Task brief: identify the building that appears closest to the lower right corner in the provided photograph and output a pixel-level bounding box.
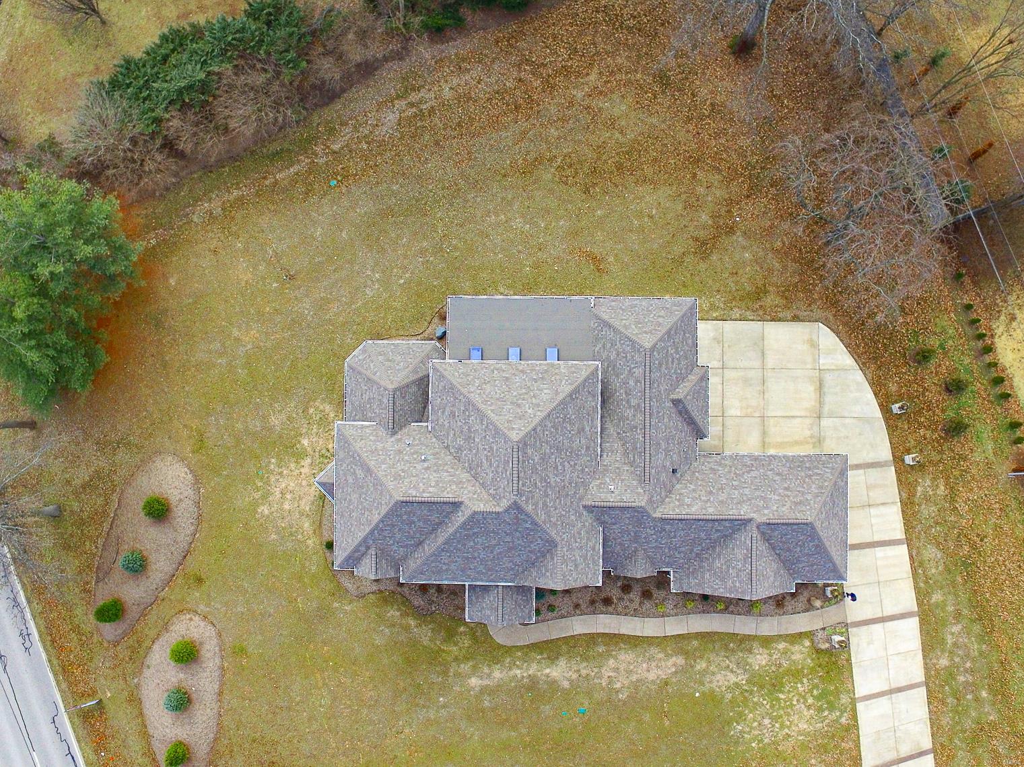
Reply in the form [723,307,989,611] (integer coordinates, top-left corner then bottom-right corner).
[310,294,850,627]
